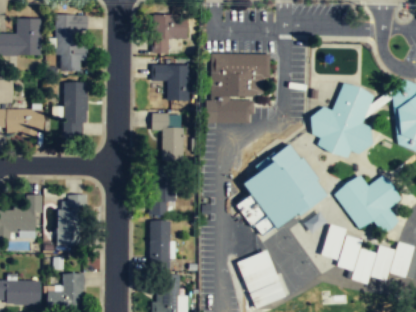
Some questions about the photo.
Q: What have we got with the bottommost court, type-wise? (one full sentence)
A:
In the photo, the bottommost court shows up as a basketball court.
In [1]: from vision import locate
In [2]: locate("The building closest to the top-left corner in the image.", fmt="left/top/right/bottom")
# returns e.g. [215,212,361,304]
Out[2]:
[0,17,41,54]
